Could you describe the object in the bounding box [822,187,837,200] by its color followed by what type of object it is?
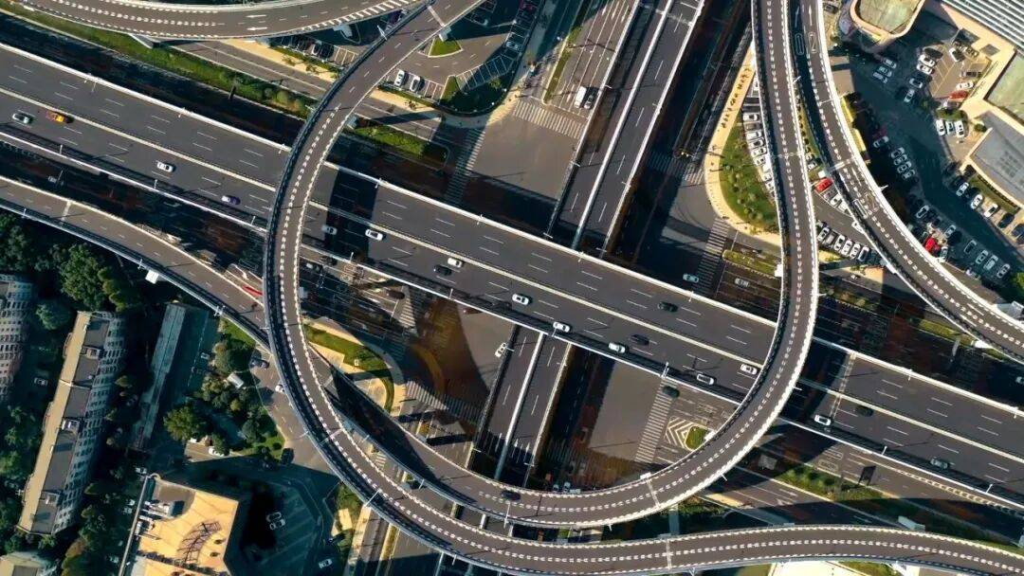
gray vehicle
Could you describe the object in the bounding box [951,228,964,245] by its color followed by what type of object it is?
black vehicle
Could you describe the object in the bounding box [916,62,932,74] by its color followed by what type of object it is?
white vehicle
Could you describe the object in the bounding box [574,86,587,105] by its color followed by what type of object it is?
white vehicle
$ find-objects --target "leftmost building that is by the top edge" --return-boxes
[831,0,924,52]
